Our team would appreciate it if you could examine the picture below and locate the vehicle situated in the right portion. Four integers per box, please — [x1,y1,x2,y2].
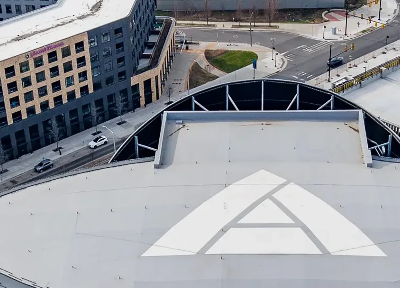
[325,54,346,67]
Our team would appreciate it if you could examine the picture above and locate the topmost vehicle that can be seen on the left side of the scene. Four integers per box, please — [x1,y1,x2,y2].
[84,132,110,150]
